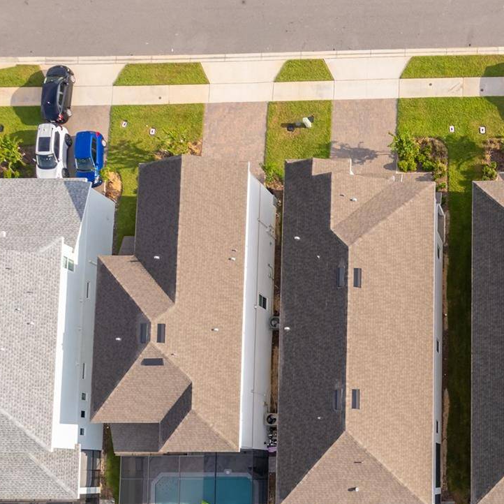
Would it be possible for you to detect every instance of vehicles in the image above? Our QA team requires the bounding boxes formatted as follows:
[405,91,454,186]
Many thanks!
[31,121,68,177]
[37,65,74,125]
[69,128,103,185]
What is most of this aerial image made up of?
buildings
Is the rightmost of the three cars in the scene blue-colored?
Yes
